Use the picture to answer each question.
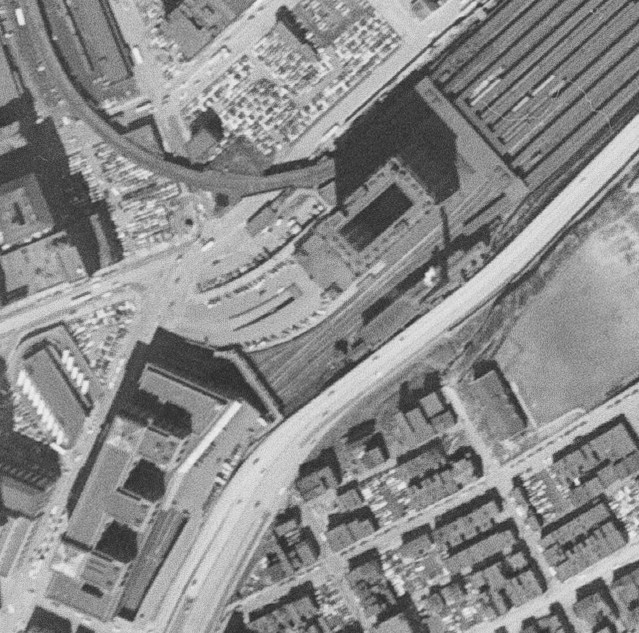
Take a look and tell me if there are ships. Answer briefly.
No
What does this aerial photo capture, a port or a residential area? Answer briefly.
residential area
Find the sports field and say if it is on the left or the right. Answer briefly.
right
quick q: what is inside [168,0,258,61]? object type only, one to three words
building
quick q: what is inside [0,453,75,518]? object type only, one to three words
building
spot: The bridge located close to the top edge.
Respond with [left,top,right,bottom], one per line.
[26,0,344,193]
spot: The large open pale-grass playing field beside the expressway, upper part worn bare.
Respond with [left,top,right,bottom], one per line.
[500,200,639,424]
